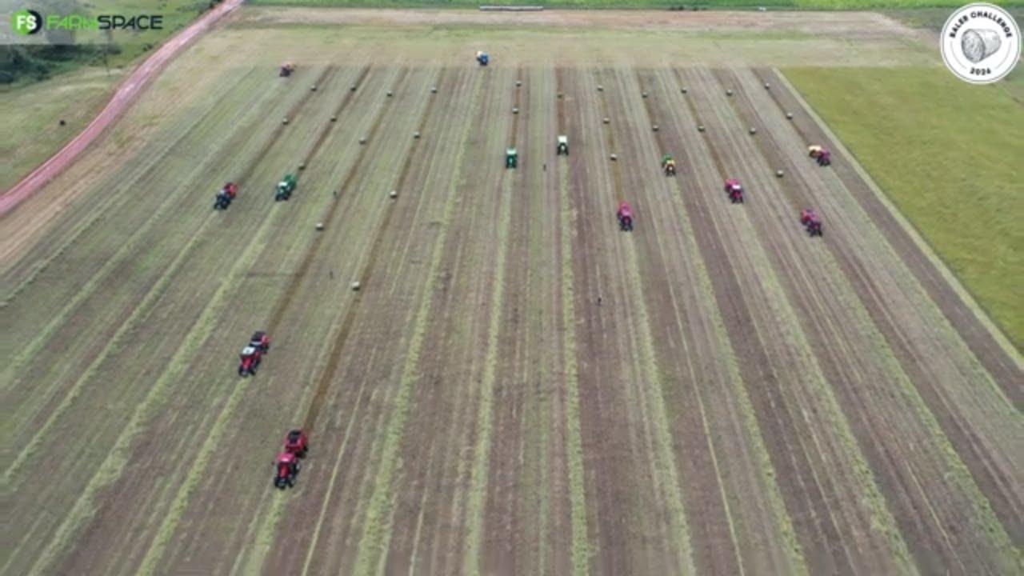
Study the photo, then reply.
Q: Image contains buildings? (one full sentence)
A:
No, no building can be seen from above.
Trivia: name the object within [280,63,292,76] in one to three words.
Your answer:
vehicle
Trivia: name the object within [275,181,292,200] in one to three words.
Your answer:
work vehicle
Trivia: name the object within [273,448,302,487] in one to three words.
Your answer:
work vehicle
